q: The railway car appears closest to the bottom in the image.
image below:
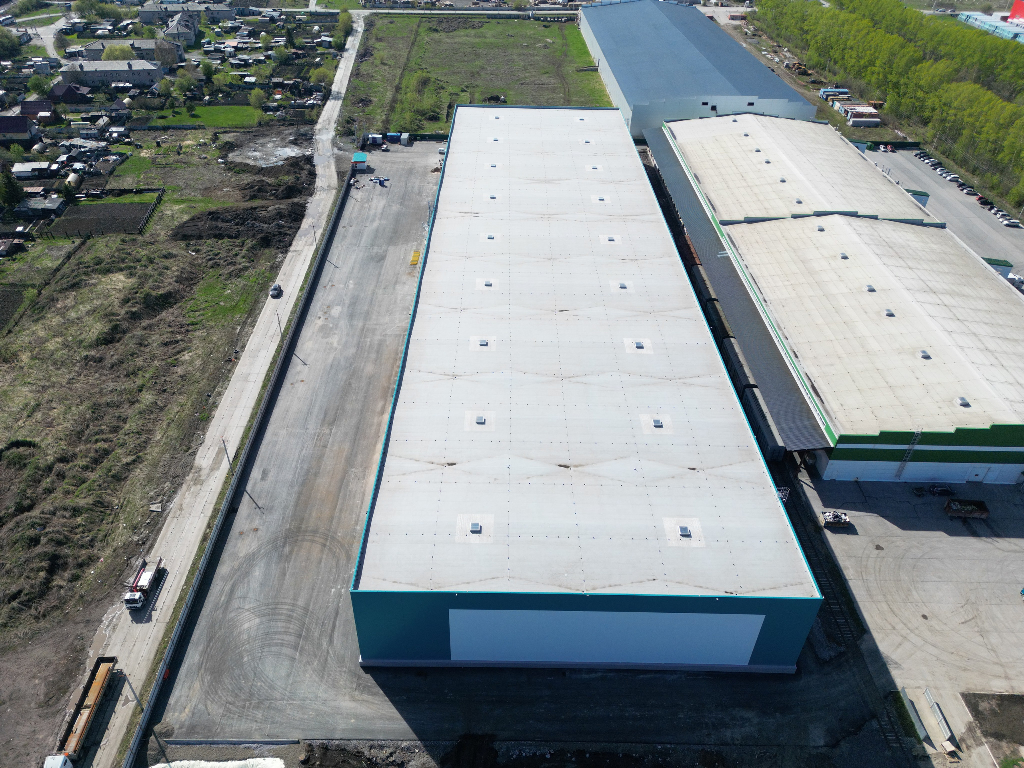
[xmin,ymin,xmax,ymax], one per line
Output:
[738,387,785,464]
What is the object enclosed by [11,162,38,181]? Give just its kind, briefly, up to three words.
shed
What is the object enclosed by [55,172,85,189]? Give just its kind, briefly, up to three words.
greenhouse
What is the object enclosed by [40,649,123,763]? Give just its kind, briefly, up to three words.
trailer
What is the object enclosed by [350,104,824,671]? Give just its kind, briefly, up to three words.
warehouse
